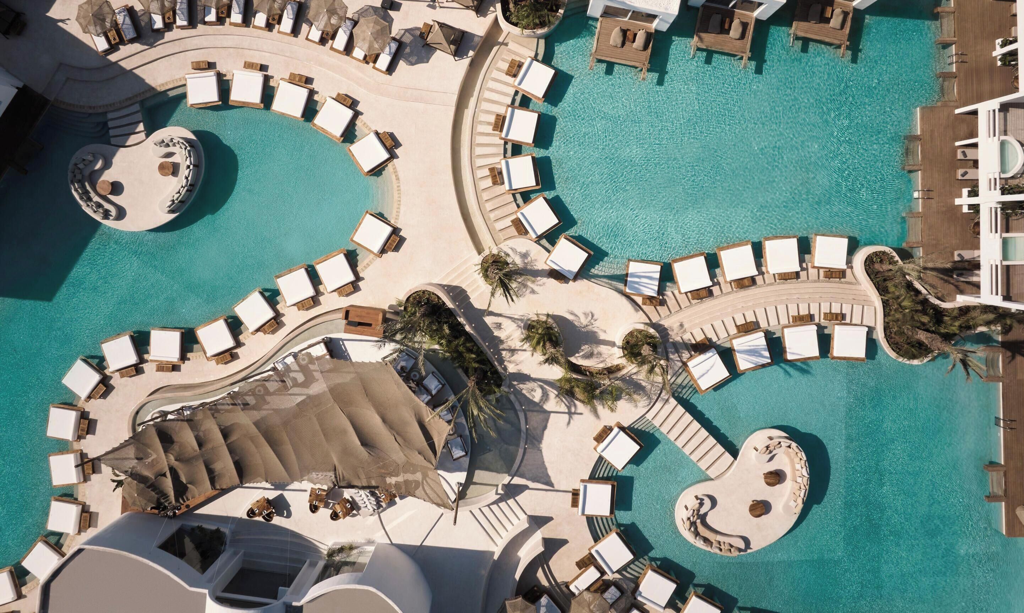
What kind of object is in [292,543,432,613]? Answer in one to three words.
building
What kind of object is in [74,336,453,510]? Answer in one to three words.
tent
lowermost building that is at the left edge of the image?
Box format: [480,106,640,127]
[36,516,237,613]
